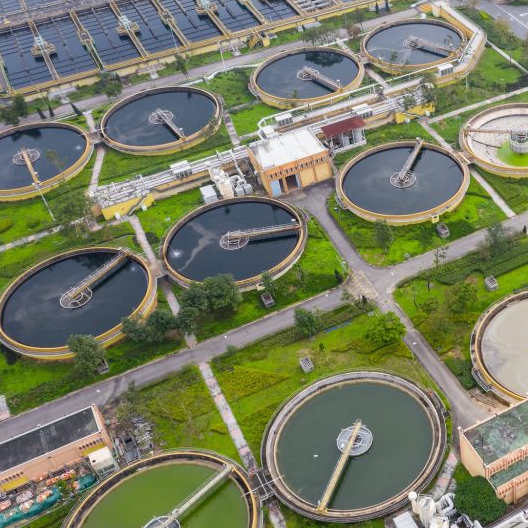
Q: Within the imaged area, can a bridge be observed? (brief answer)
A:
Yes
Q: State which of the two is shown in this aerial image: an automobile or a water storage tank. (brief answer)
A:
water storage tank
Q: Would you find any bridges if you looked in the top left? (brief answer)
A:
Yes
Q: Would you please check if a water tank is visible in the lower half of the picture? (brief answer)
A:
Yes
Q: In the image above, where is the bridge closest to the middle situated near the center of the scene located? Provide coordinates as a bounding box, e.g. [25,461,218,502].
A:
[219,223,305,238]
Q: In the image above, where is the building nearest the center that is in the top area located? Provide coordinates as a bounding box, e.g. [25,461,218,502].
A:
[251,125,336,198]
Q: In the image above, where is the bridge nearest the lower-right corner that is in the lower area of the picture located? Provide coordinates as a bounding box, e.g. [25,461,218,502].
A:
[317,419,362,514]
